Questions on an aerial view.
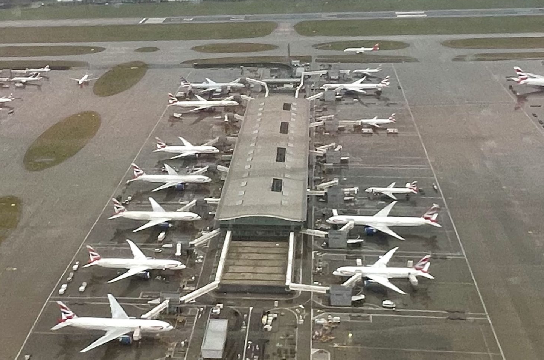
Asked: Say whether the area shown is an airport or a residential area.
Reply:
airport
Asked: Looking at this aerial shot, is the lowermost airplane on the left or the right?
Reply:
left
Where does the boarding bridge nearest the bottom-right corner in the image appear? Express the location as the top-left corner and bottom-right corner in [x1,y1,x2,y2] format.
[351,271,367,290]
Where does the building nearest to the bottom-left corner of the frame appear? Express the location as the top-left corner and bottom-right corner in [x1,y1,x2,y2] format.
[159,288,181,313]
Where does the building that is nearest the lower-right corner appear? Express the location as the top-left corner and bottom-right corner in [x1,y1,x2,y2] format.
[330,277,352,305]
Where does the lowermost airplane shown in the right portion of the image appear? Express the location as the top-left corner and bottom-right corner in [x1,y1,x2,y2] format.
[333,247,430,292]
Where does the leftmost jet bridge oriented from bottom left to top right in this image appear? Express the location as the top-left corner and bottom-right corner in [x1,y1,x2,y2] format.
[137,300,170,320]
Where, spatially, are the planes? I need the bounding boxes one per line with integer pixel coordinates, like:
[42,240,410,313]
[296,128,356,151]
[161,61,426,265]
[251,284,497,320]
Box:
[0,93,14,102]
[353,64,382,74]
[85,239,186,284]
[327,199,437,241]
[153,135,220,158]
[12,73,43,83]
[52,295,173,356]
[344,43,380,53]
[169,92,238,112]
[129,161,212,190]
[333,247,430,292]
[108,194,201,231]
[512,65,544,87]
[320,74,390,94]
[365,182,416,199]
[26,65,51,73]
[182,74,244,92]
[361,115,396,126]
[74,73,96,83]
